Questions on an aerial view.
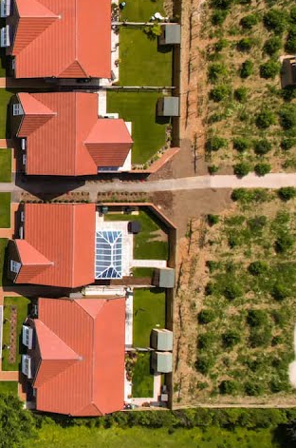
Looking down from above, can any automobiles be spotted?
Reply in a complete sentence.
No, the frame has no automobile in it.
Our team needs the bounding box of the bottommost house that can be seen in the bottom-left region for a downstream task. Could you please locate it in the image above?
[21,295,126,415]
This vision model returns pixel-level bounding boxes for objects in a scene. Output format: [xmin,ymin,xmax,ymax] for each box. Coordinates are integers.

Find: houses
[11,92,131,175]
[8,203,96,286]
[0,0,112,78]
[21,295,126,415]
